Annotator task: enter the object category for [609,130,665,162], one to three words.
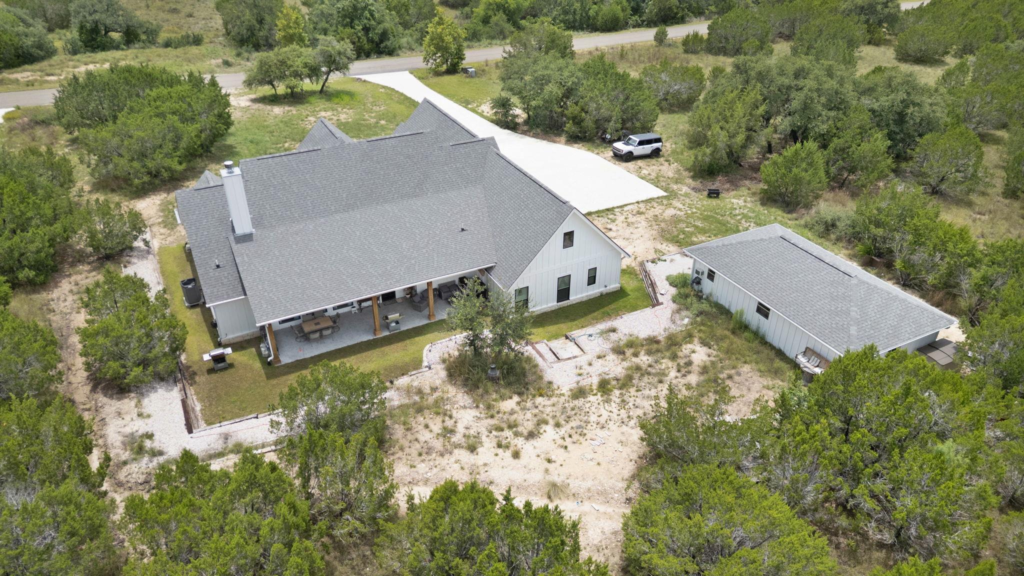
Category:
car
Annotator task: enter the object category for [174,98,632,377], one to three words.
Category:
house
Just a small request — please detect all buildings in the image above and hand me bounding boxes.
[683,223,958,376]
[174,98,632,377]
